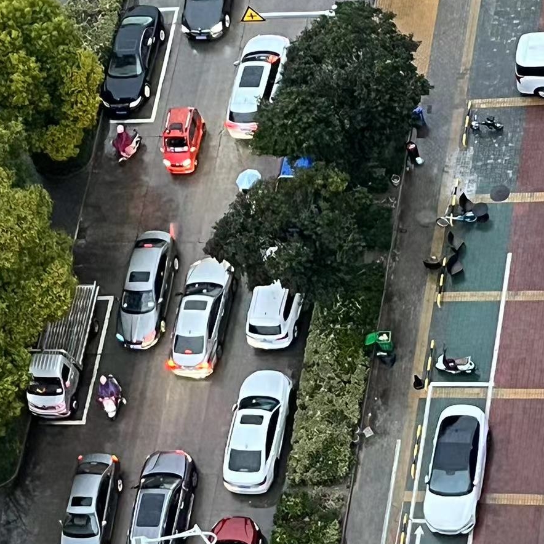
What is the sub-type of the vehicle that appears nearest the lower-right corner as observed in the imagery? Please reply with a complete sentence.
The vehicle that appears nearest the lower-right corner in the image is a car.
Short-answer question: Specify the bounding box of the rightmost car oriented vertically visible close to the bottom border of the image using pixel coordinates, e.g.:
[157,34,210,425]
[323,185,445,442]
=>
[420,410,490,535]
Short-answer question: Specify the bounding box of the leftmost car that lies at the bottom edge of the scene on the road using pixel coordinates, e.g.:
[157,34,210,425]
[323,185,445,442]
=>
[54,455,126,544]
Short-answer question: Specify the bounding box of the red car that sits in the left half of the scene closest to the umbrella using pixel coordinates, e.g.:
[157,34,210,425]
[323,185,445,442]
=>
[157,100,209,185]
